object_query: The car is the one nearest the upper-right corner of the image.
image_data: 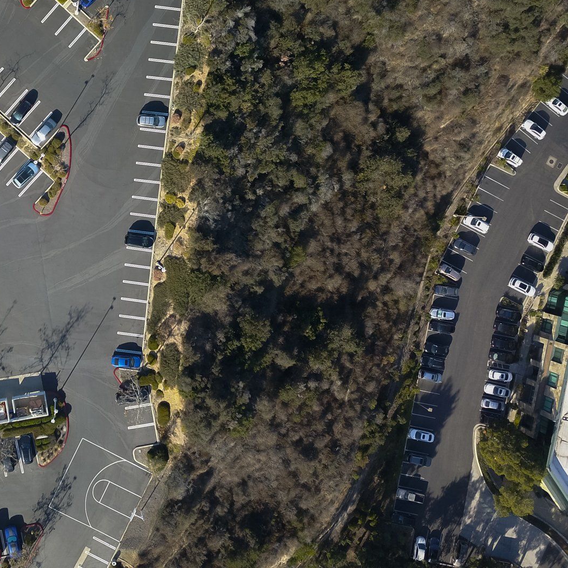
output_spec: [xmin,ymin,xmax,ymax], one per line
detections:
[543,97,568,119]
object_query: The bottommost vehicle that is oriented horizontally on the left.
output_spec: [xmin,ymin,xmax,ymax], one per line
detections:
[118,387,149,403]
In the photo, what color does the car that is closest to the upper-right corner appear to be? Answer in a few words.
white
